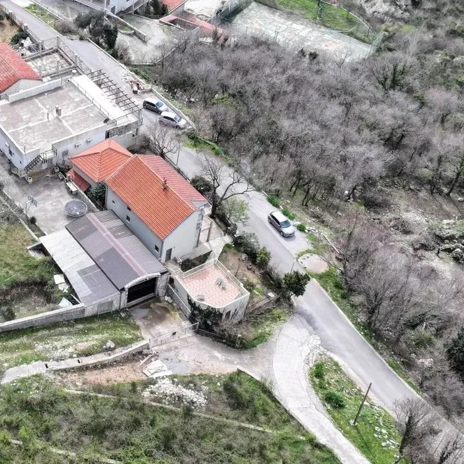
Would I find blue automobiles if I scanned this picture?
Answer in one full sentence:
No, no blue automobile is visible in the scene.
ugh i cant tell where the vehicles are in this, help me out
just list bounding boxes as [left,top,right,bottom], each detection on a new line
[142,95,170,112]
[268,210,298,236]
[157,108,188,127]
